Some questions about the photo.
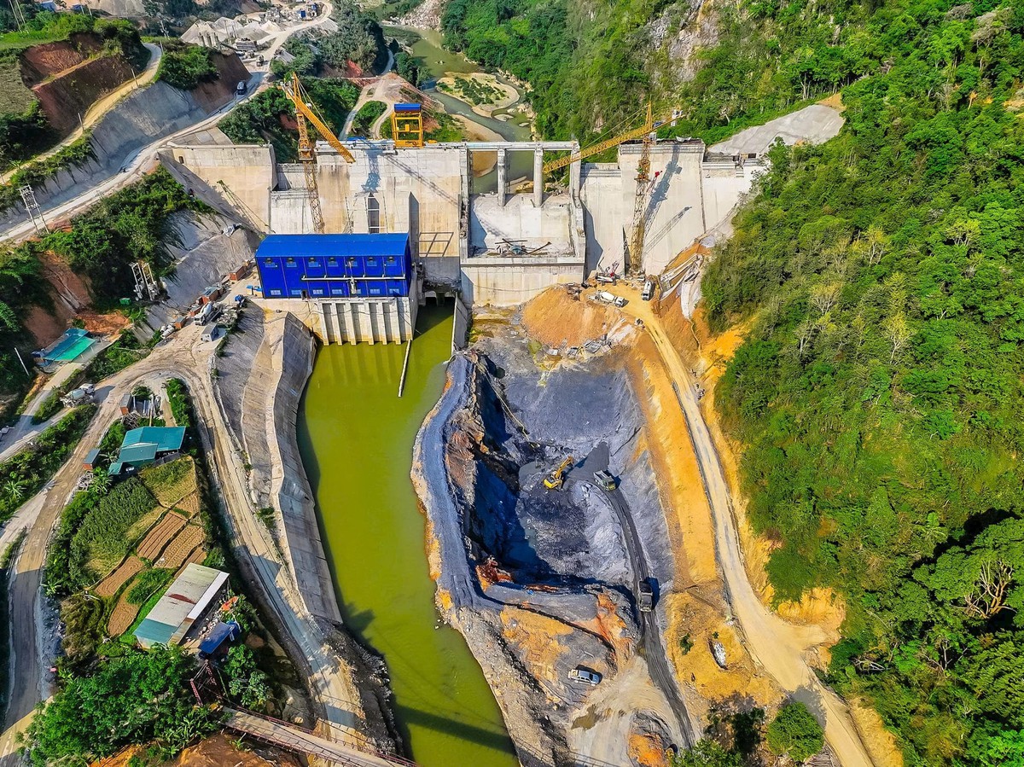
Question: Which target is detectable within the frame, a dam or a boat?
dam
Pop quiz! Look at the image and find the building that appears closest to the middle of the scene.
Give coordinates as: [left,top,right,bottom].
[253,234,427,346]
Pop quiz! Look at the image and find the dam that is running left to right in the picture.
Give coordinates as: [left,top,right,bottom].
[151,134,783,320]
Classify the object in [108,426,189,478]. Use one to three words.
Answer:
house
